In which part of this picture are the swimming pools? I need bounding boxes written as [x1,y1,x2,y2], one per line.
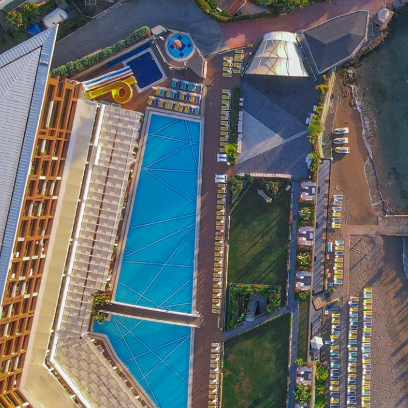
[163,30,197,64]
[89,109,205,408]
[122,47,169,94]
